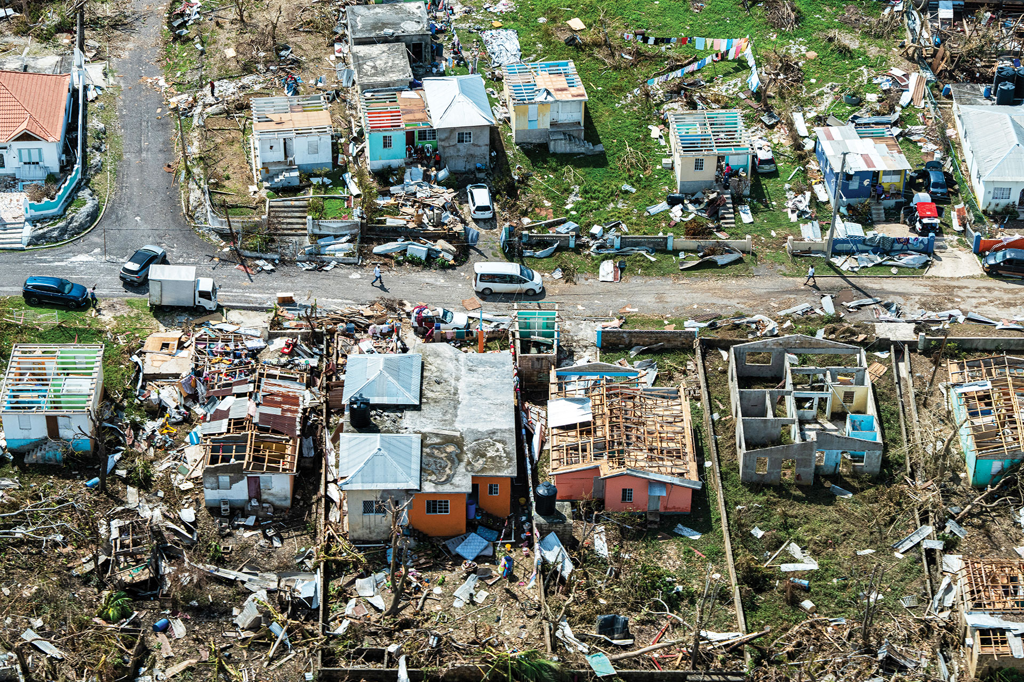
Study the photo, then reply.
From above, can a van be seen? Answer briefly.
Yes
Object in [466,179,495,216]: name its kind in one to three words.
car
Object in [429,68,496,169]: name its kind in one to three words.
house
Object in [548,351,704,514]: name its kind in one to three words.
house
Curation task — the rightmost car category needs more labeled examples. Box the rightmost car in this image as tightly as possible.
[979,240,1024,275]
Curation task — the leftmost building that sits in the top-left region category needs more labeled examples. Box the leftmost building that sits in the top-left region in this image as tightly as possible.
[0,92,80,199]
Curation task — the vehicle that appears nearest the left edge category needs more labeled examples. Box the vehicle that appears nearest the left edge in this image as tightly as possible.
[16,266,87,303]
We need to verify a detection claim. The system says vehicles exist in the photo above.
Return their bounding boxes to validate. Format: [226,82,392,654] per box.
[979,240,1024,275]
[143,261,221,310]
[466,179,495,216]
[120,240,178,283]
[408,297,472,331]
[913,150,961,197]
[901,195,949,229]
[750,138,781,173]
[473,260,544,296]
[16,266,87,303]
